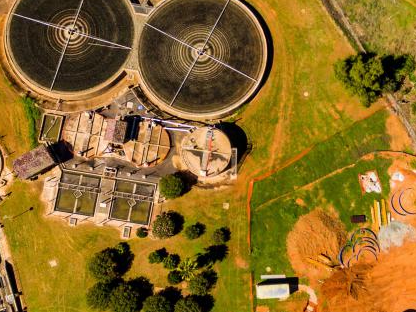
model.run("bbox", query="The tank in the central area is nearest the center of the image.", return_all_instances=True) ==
[182,126,234,179]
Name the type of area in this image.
industrial area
